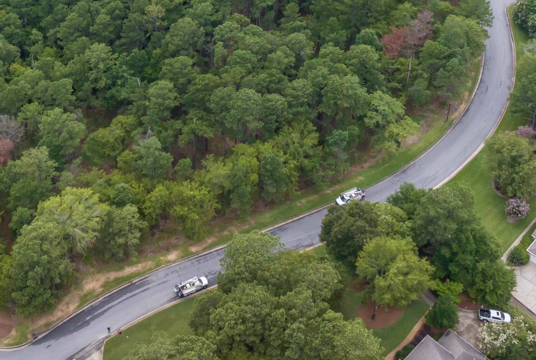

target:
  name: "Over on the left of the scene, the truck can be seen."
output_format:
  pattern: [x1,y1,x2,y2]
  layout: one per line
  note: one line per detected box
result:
[170,275,210,300]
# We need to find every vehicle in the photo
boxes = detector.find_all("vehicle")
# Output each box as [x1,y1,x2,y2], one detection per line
[334,184,367,206]
[477,307,512,324]
[170,275,210,300]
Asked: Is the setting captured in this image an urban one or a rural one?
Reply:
rural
